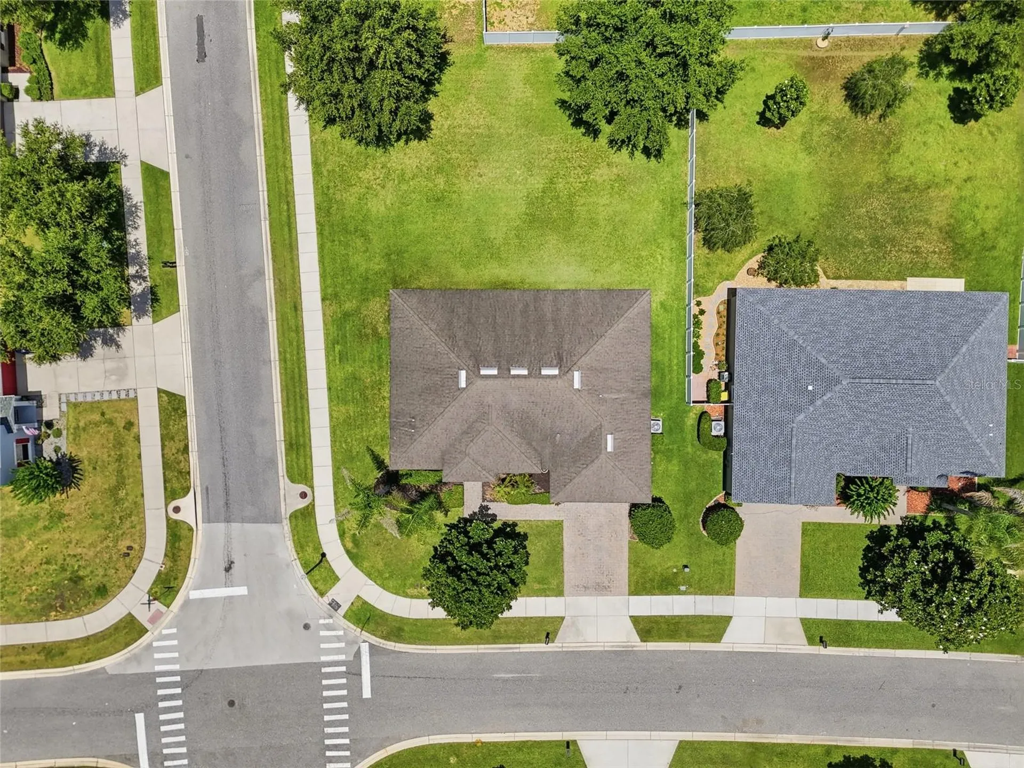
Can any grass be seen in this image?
Yes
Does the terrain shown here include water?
No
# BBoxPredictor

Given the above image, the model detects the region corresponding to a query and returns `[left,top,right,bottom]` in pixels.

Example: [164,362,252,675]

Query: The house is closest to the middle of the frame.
[389,288,652,504]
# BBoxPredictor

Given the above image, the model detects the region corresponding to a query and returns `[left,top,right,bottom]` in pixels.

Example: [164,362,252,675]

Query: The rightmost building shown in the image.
[727,288,1009,505]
